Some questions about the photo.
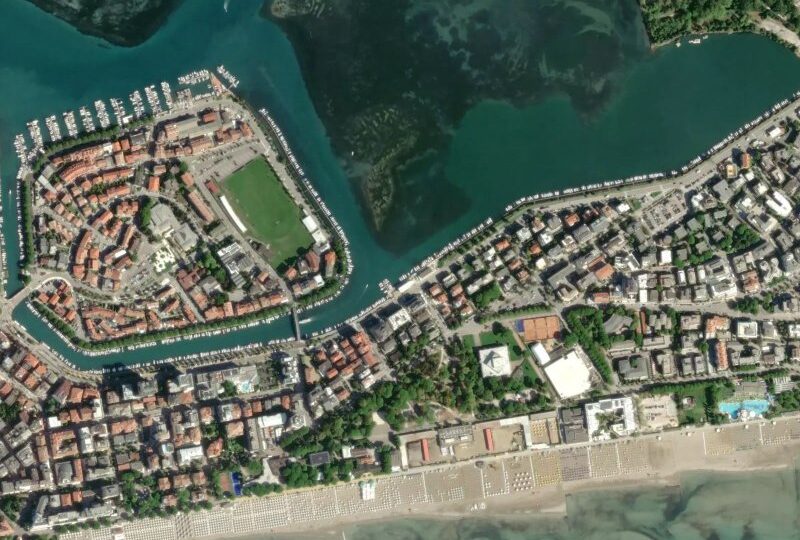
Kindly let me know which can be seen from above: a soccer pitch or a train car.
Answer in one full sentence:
Of the two, only a soccer pitch appears.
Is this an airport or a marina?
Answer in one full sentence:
This looks like a marina.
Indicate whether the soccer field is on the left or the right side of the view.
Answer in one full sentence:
The soccer field is on the left side of the image.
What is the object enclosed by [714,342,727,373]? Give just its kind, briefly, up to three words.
house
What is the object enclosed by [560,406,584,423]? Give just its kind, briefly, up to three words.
building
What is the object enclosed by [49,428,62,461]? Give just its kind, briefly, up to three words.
house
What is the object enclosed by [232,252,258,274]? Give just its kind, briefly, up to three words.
building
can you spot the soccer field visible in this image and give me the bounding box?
[220,156,313,266]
